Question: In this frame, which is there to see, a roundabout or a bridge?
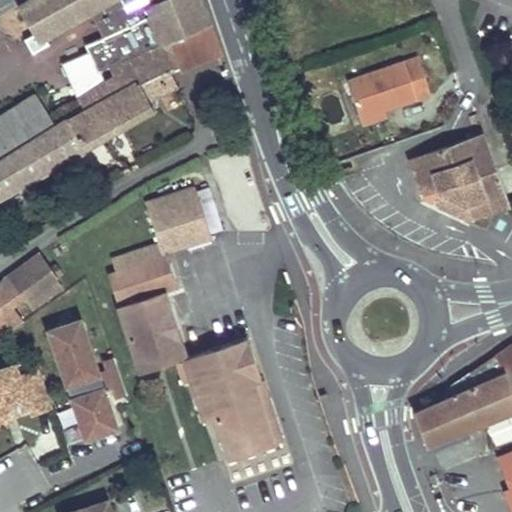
roundabout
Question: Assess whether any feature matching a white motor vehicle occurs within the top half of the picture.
Yes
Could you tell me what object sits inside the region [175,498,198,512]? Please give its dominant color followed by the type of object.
white vehicle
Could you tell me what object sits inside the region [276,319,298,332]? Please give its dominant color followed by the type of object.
gray vehicle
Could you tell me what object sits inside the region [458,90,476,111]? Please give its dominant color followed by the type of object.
white car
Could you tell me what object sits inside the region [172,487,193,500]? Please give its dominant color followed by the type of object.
white vehicle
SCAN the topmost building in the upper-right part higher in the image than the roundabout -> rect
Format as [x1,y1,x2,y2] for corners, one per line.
[349,55,431,126]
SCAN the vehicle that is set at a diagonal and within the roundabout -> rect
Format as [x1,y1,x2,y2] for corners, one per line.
[393,268,413,286]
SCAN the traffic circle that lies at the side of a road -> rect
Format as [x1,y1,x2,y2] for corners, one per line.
[322,261,444,383]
